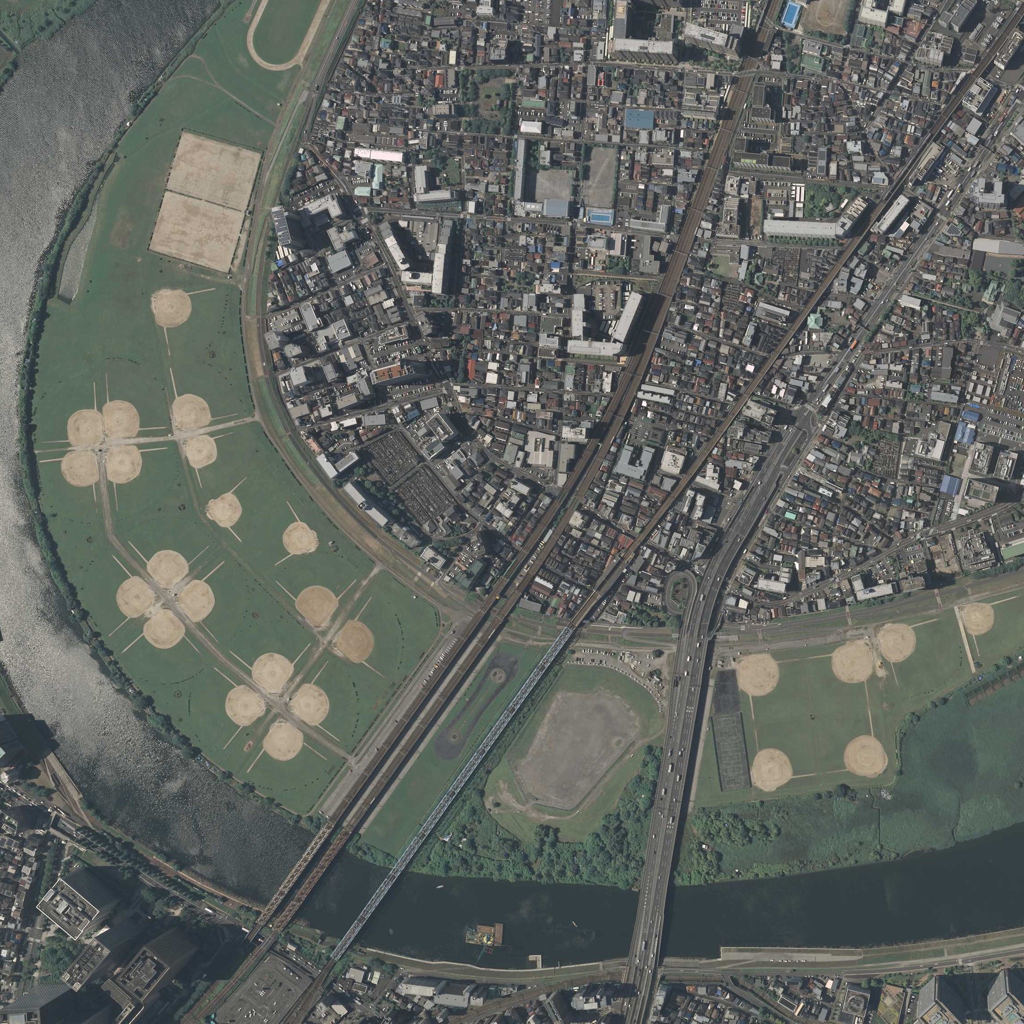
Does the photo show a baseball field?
Yes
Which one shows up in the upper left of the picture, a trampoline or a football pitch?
football pitch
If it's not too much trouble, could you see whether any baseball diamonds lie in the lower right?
Yes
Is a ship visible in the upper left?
No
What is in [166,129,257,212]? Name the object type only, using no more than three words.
soccer field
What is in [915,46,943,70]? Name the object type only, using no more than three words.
building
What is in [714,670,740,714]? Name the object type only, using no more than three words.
sports court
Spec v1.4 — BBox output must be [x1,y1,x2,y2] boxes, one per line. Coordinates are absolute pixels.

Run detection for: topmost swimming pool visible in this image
[780,1,802,29]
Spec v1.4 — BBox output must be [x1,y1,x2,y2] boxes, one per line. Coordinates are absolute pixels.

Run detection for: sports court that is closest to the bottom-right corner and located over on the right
[711,712,752,792]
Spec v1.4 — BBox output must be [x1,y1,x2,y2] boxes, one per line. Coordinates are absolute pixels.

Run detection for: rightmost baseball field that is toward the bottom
[961,597,1016,655]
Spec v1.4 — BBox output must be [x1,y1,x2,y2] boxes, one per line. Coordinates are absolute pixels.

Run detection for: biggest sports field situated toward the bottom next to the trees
[512,693,638,808]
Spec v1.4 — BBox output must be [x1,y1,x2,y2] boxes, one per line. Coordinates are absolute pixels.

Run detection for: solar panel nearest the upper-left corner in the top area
[275,208,289,243]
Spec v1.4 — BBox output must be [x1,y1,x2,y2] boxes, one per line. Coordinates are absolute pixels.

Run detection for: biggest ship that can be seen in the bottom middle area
[466,923,503,966]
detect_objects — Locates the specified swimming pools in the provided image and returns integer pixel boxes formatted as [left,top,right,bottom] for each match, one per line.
[586,209,614,226]
[780,1,802,29]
